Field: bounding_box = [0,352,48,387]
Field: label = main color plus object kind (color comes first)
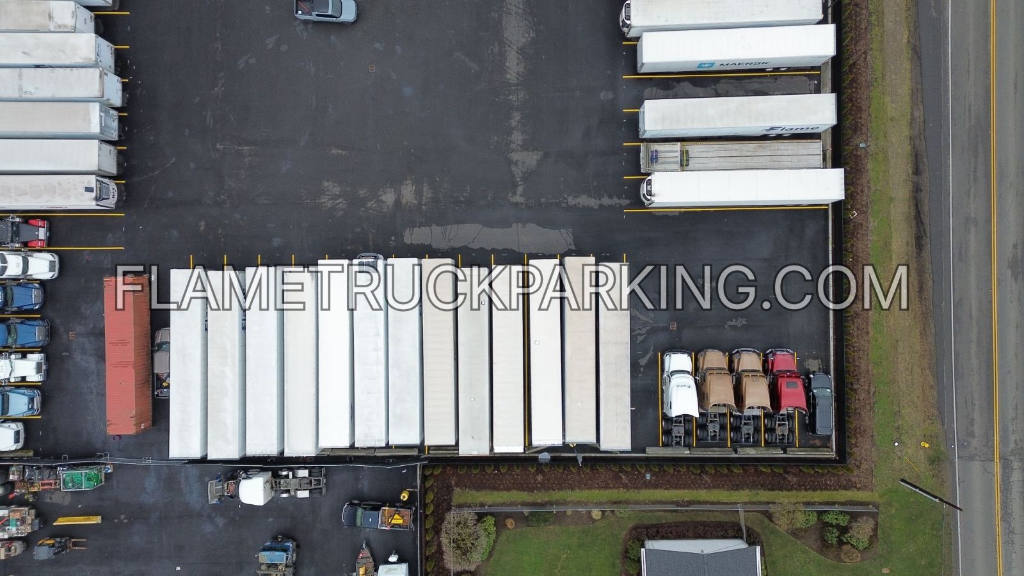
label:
white truck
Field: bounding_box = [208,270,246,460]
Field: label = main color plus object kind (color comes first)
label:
white trailer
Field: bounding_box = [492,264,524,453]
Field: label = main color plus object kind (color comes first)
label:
white trailer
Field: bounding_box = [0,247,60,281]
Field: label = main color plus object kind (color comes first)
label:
white truck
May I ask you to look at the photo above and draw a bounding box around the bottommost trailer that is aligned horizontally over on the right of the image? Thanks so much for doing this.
[641,169,845,207]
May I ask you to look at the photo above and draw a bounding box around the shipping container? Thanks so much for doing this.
[105,277,153,434]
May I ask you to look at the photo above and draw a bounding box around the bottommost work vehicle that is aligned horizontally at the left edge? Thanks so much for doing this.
[26,540,87,565]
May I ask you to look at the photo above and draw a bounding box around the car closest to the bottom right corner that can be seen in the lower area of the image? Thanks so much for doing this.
[806,374,837,437]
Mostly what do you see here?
paved ground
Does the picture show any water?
No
